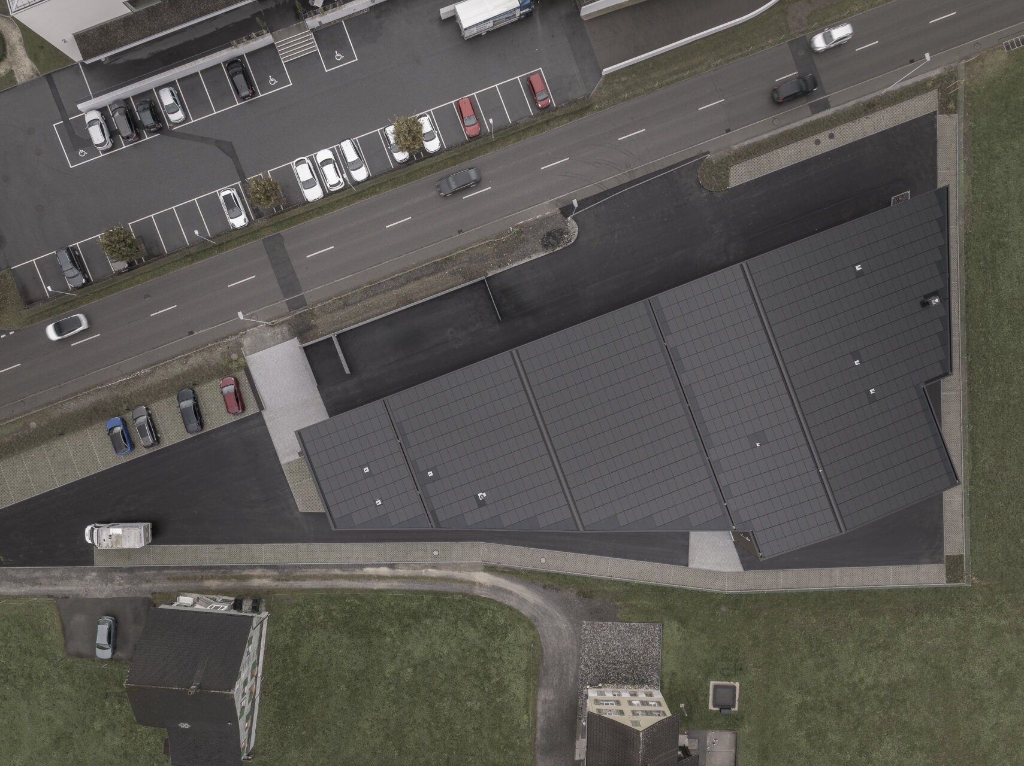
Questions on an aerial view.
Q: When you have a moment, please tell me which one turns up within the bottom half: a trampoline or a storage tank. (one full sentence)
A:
Looking within the bottom half, you will find a trampoline.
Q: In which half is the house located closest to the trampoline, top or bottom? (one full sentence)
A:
The bottom half of the photo is where the house located closest to the trampoline is.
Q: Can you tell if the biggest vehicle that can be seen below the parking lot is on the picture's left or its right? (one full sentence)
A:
It is on the left.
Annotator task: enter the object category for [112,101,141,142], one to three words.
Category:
car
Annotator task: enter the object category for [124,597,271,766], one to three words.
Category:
house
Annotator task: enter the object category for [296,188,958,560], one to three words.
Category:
building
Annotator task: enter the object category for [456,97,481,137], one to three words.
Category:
car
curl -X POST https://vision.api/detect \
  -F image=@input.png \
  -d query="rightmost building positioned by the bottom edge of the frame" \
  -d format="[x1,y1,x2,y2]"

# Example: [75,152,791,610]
[586,689,699,766]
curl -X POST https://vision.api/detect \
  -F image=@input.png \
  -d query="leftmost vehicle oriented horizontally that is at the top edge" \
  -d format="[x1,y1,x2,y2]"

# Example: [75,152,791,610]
[456,0,538,41]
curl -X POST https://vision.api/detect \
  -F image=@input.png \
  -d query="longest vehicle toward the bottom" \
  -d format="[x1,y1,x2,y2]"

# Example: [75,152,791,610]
[89,523,153,548]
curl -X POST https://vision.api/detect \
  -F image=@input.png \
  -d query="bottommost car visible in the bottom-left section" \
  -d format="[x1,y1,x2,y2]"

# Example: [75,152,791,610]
[95,617,119,657]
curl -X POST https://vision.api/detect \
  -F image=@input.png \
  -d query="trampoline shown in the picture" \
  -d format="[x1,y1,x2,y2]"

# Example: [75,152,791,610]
[709,682,739,715]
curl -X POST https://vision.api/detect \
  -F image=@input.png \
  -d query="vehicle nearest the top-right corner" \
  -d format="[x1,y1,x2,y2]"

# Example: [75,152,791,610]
[810,23,853,53]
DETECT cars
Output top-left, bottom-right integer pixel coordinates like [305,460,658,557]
[340,139,368,181]
[456,97,481,137]
[229,60,256,100]
[221,189,248,227]
[57,247,89,287]
[318,151,344,190]
[95,617,119,657]
[221,377,247,414]
[112,101,141,142]
[159,86,187,123]
[107,418,134,455]
[415,113,441,152]
[110,255,133,273]
[384,125,410,163]
[50,314,90,340]
[138,100,163,134]
[133,407,161,447]
[178,390,204,432]
[85,112,114,150]
[295,157,324,200]
[810,23,853,53]
[528,73,550,109]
